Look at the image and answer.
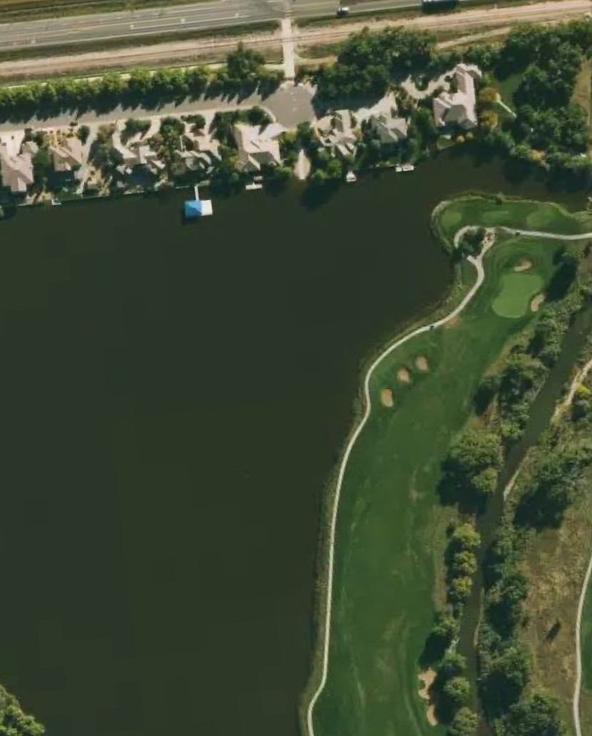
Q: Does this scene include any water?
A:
Yes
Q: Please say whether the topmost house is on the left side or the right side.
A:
right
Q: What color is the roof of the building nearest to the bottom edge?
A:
blue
